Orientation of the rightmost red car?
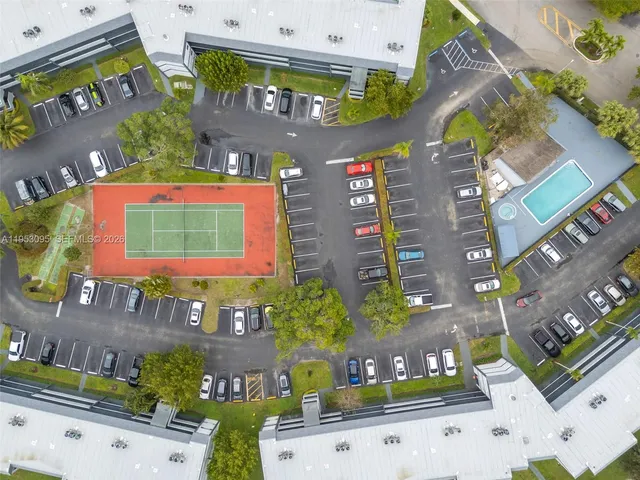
at an angle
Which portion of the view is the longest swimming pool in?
right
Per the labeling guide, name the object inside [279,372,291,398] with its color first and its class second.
gray vehicle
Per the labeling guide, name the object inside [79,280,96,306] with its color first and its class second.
white car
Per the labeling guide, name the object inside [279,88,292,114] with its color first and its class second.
gray vehicle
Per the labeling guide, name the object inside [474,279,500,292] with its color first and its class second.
white vehicle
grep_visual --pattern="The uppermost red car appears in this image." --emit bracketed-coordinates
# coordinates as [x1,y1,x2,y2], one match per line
[347,162,372,174]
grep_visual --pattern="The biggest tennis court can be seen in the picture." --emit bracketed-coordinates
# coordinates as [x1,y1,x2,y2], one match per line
[93,183,277,277]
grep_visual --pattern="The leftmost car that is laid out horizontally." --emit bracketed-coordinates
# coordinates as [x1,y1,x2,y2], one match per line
[279,167,303,179]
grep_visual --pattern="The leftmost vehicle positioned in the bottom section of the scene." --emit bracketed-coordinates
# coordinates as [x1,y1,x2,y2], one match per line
[9,331,27,360]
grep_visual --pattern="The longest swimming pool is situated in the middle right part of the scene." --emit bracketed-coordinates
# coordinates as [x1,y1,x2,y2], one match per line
[522,161,592,224]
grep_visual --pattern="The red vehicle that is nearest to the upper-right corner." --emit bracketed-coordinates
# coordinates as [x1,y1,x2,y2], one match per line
[591,202,612,225]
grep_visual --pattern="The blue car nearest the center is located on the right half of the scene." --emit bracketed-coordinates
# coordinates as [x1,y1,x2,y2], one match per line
[398,249,424,262]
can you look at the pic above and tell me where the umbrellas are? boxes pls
[496,179,508,192]
[490,172,501,184]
